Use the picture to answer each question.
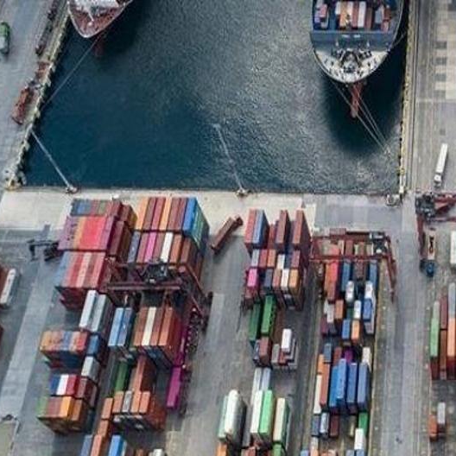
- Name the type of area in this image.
port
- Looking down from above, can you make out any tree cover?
No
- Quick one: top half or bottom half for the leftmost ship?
top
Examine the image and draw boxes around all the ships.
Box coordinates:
[309,0,410,125]
[75,0,145,64]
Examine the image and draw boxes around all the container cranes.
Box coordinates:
[416,196,456,258]
[100,258,211,323]
[306,229,393,294]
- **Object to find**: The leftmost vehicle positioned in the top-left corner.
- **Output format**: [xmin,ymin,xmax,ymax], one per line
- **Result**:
[0,29,14,61]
